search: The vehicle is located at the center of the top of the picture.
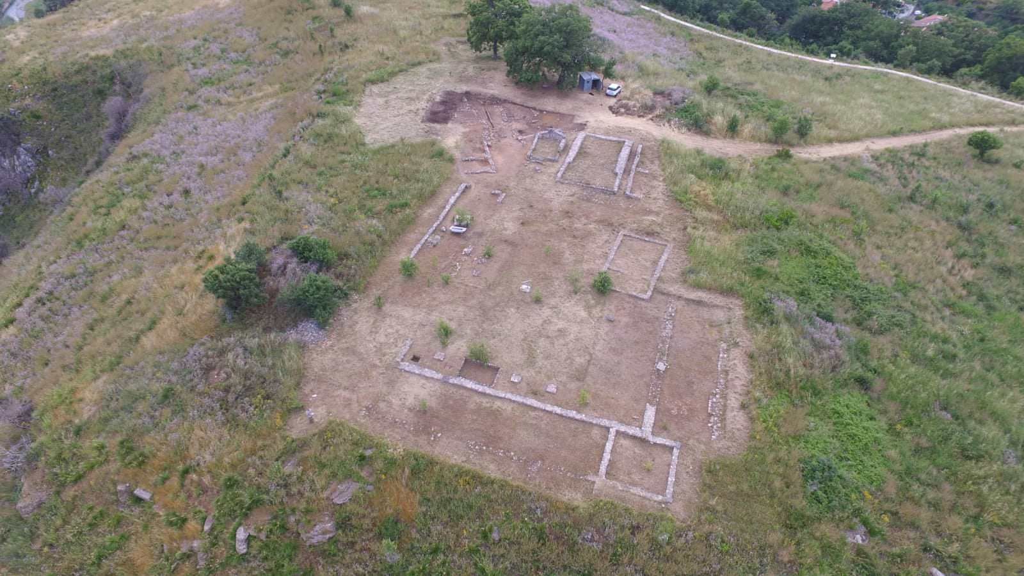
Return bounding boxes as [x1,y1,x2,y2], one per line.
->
[606,83,620,97]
